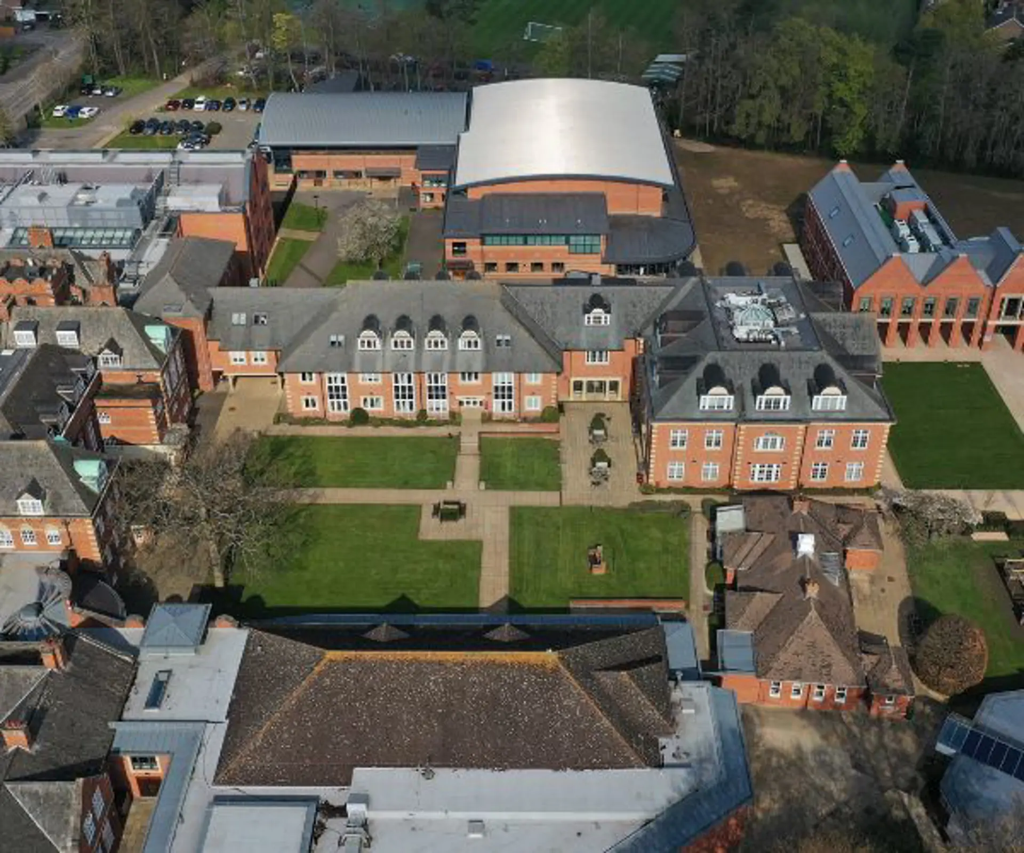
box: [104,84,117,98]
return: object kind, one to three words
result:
vehicle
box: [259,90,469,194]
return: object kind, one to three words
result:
building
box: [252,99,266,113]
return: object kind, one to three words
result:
car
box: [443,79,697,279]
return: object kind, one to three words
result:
building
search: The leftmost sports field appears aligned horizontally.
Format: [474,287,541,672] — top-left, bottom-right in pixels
[472,0,689,68]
